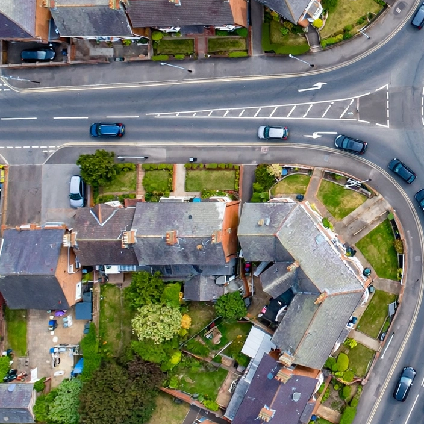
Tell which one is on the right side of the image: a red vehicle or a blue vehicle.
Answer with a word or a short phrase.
blue vehicle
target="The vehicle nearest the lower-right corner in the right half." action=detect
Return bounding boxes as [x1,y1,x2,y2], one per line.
[392,364,416,405]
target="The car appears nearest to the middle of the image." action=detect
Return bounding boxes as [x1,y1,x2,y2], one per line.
[258,123,292,141]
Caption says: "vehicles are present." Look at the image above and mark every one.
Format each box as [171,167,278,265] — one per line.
[17,45,58,63]
[67,174,86,208]
[92,121,127,139]
[387,155,418,187]
[415,188,424,214]
[408,0,424,34]
[258,123,292,141]
[334,133,369,155]
[392,364,416,405]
